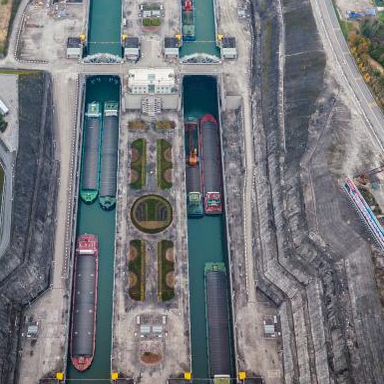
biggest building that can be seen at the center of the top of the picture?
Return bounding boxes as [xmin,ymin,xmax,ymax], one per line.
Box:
[129,64,174,93]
